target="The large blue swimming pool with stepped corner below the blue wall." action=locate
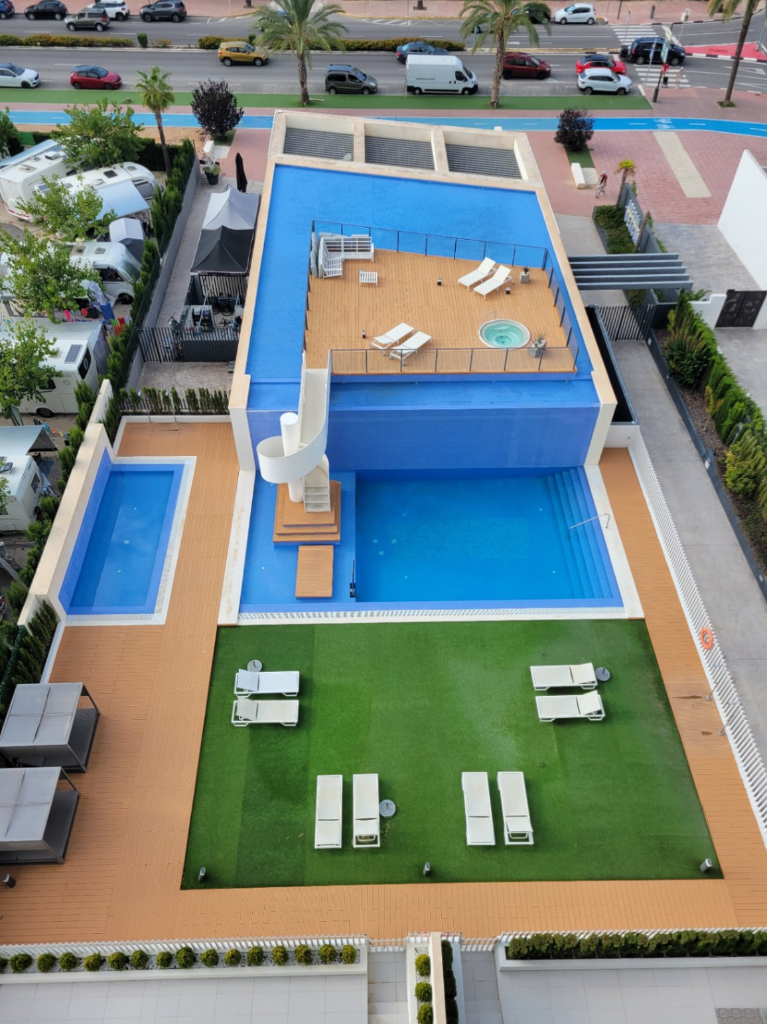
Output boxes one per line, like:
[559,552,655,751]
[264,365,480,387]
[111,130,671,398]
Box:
[218,467,645,625]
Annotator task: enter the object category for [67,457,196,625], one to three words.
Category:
swimming pool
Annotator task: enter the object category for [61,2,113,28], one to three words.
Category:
car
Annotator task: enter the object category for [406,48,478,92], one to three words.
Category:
van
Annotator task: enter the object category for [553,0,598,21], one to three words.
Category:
car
